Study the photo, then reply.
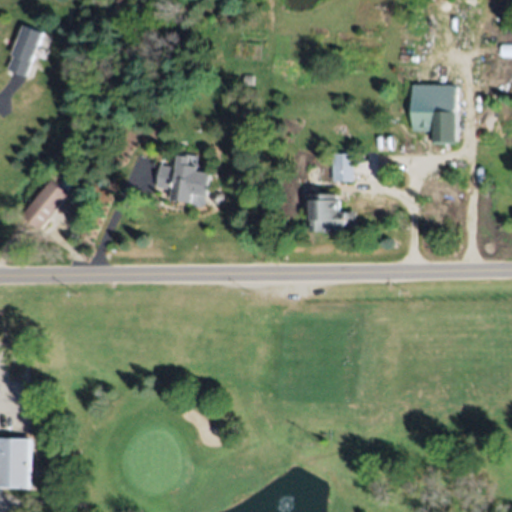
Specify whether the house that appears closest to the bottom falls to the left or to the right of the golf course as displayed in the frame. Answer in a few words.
on its left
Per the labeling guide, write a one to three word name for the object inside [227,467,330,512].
pond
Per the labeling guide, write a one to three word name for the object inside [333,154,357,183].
shed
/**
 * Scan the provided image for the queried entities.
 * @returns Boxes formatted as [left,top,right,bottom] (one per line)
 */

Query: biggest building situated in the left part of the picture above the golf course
[157,154,210,207]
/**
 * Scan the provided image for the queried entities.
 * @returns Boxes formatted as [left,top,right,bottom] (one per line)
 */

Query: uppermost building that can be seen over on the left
[8,25,51,78]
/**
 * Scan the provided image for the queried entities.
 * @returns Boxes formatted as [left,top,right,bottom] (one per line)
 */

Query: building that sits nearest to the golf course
[0,438,32,490]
